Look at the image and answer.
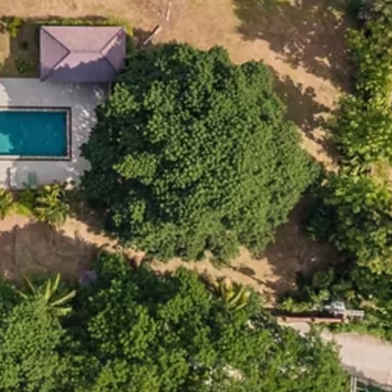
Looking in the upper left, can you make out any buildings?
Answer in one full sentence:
Yes, looking in the upper left, one can make out a building.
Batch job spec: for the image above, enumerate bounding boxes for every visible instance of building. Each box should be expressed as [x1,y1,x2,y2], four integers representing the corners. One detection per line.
[37,26,127,81]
